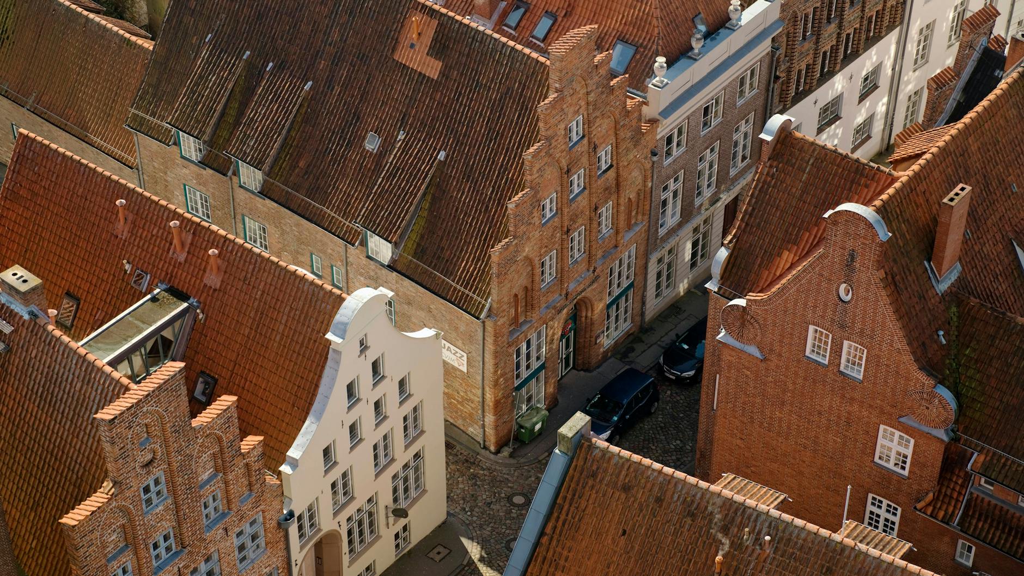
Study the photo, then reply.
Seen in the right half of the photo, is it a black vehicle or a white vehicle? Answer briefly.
black vehicle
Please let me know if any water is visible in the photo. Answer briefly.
No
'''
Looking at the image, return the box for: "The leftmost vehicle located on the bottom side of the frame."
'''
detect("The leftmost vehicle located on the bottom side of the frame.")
[578,368,663,446]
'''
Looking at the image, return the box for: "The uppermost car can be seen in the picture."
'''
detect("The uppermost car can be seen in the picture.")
[654,312,704,393]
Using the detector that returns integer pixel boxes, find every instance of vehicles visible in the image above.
[578,368,663,446]
[654,312,704,393]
